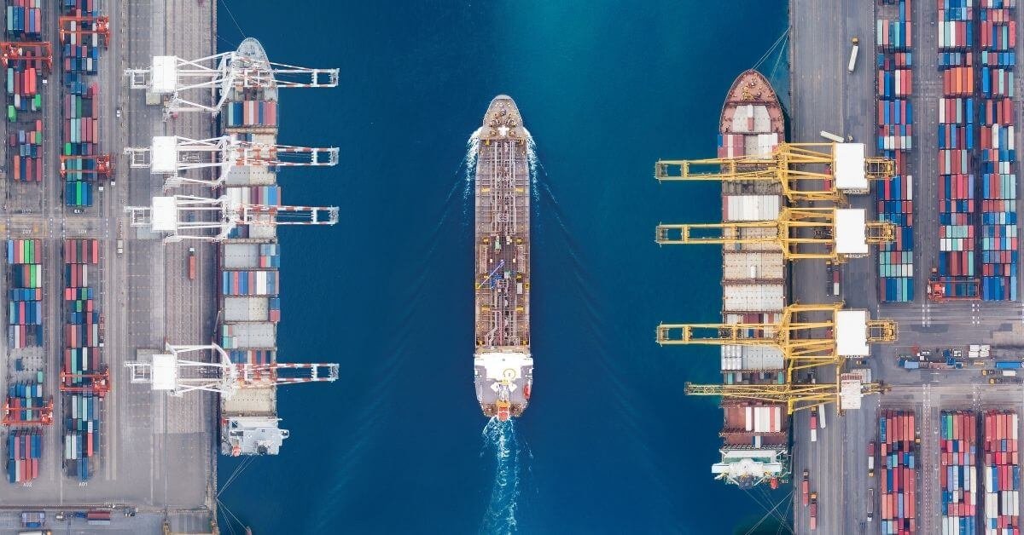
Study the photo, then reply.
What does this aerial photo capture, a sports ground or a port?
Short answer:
port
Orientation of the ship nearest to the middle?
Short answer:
from top to bottom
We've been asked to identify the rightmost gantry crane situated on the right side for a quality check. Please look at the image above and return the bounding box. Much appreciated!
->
[920,276,983,303]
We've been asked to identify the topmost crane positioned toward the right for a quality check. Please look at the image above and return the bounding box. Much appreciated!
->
[657,135,896,209]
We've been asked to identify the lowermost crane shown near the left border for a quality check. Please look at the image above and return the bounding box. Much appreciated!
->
[2,401,61,426]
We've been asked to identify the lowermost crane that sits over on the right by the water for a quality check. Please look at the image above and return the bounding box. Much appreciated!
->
[684,353,889,422]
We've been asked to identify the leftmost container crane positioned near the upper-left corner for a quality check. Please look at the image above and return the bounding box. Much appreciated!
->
[0,40,59,67]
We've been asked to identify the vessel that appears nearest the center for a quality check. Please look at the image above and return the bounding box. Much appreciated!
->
[473,94,533,420]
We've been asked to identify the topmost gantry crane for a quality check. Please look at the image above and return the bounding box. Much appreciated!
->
[58,14,117,41]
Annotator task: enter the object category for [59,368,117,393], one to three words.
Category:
container crane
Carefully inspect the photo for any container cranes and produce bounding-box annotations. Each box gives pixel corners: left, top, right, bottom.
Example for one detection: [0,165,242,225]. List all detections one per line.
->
[59,368,117,393]
[125,52,337,117]
[2,401,61,426]
[657,203,896,272]
[0,40,59,67]
[125,187,337,251]
[659,293,897,370]
[58,153,120,178]
[125,336,337,404]
[657,135,896,209]
[920,276,983,303]
[58,14,117,41]
[125,128,337,192]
